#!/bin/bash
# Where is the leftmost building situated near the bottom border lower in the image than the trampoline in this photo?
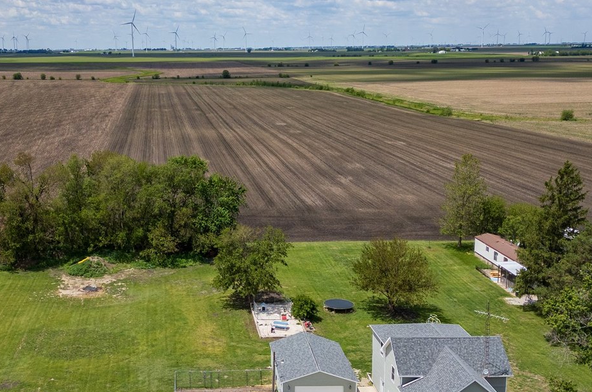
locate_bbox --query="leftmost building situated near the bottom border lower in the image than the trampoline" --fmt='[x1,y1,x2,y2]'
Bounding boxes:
[270,333,360,392]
